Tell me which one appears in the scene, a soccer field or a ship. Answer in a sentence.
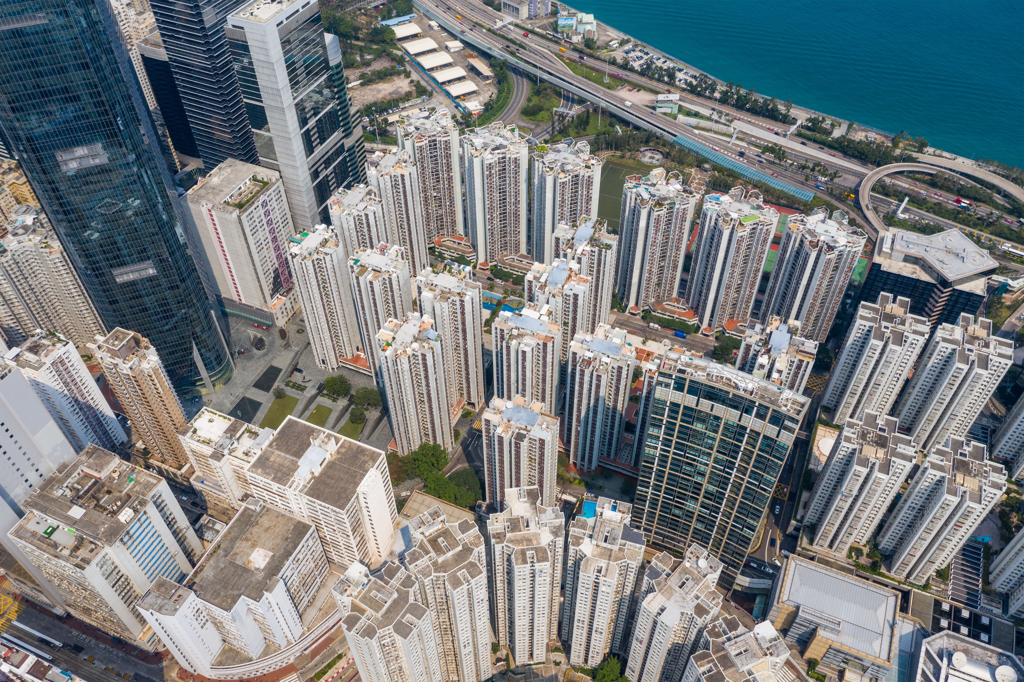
It is a soccer field that can be seen here.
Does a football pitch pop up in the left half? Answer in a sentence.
No, no football pitch is visible in the left half.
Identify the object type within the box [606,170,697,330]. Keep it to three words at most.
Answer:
building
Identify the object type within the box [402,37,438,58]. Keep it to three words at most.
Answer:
shed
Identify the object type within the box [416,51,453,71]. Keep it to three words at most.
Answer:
shed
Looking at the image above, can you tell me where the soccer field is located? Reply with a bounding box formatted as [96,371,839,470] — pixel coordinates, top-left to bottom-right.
[598,157,690,251]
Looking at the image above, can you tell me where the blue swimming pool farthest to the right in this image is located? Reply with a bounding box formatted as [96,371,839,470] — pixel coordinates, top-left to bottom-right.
[575,497,594,523]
